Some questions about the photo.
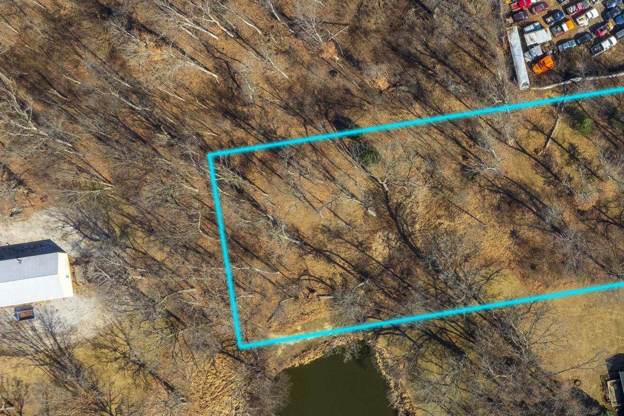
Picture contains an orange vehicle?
Yes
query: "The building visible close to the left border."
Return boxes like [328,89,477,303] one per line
[0,252,71,307]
